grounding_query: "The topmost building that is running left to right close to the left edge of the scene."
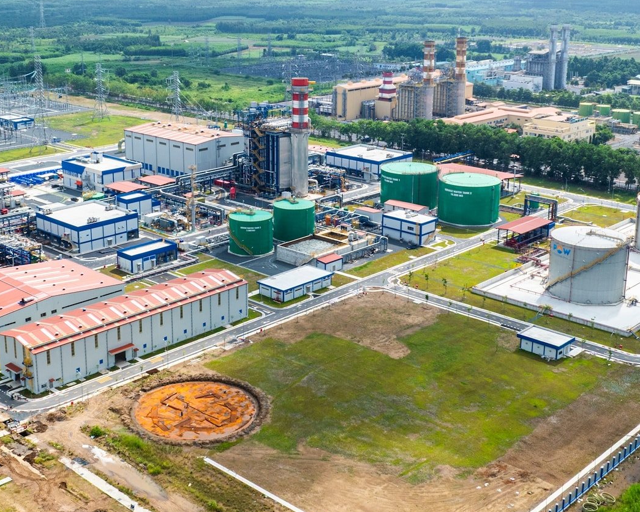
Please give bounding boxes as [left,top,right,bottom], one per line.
[0,115,34,130]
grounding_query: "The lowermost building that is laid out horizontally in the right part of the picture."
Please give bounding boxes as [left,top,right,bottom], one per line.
[515,325,578,359]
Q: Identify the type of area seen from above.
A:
industrial area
